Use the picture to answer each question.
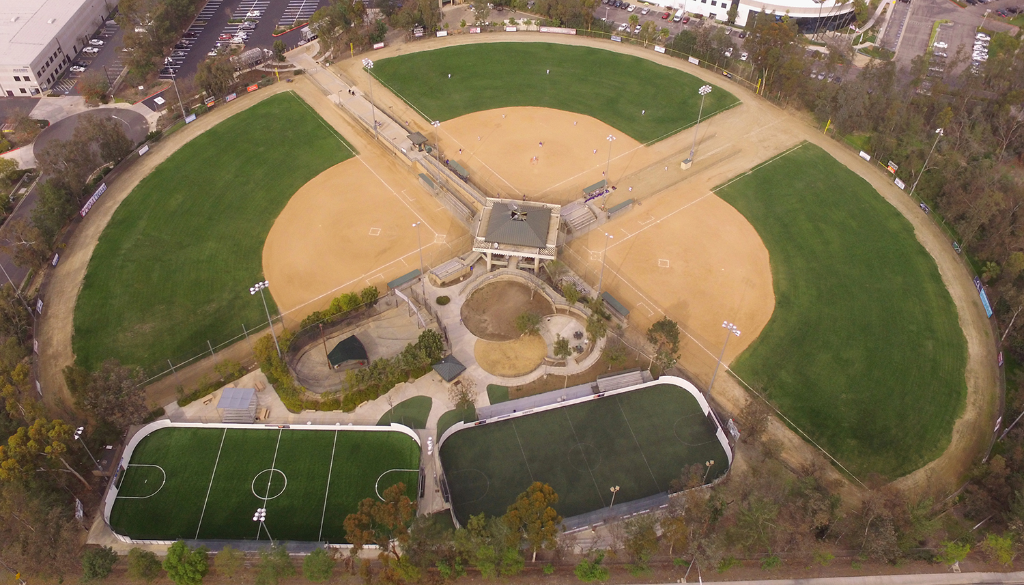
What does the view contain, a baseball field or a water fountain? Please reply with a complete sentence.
There is a baseball field in the scene.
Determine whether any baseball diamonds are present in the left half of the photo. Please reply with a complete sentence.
Yes, I can see a baseball diamond in the left half of the photo.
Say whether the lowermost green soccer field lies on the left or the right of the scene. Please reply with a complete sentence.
You can find the lowermost green soccer field on the left side of the picture.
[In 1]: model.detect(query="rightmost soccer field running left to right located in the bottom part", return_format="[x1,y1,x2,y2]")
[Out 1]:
[440,384,731,539]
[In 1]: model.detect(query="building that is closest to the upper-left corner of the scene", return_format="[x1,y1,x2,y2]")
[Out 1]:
[0,0,122,97]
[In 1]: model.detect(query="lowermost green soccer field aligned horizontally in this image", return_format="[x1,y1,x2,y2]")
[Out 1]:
[109,430,421,542]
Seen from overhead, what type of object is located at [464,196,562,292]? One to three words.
building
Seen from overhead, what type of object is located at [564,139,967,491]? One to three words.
baseball field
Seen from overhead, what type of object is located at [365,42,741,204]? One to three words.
baseball field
